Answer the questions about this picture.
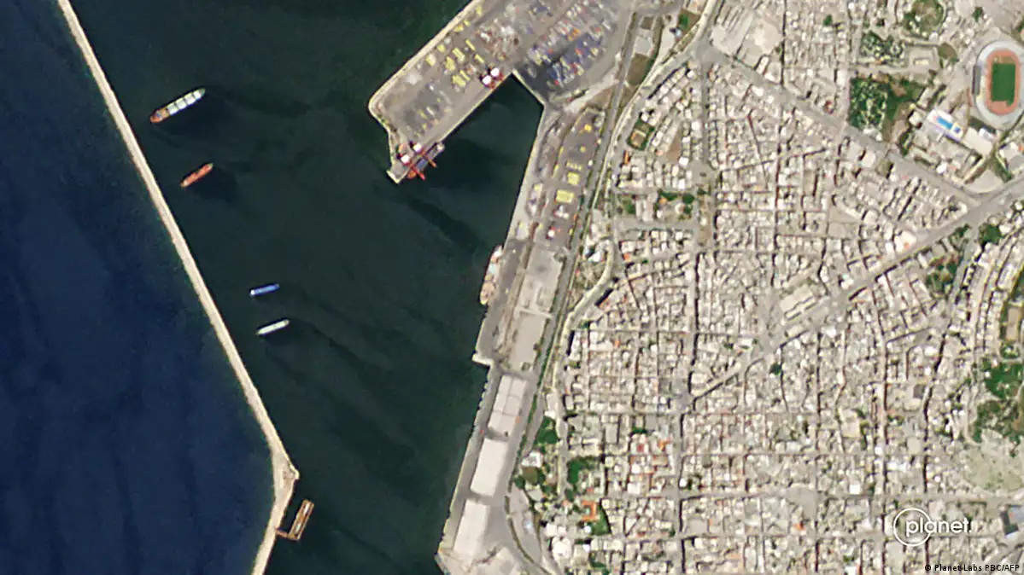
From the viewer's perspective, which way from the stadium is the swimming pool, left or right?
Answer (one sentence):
Relative to the stadium, the swimming pool lies to the left.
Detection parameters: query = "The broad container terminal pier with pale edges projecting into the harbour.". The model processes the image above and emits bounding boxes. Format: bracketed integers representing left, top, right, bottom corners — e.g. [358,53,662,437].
[369,0,585,183]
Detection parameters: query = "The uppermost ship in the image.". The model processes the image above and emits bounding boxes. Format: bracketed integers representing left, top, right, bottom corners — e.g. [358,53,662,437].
[148,87,206,121]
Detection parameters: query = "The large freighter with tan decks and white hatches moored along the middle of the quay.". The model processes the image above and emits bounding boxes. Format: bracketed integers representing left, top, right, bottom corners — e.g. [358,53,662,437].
[479,245,504,306]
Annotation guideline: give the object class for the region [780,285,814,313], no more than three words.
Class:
shed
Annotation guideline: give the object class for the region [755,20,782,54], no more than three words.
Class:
building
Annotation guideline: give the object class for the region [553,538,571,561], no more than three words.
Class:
house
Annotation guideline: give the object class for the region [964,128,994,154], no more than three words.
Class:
building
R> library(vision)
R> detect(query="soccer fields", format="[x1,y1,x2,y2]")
[992,64,1015,101]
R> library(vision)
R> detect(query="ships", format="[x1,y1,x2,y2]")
[479,245,504,306]
[179,163,213,188]
[148,87,206,121]
[257,320,290,335]
[249,284,279,295]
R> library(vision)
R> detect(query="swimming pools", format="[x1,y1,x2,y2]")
[927,109,964,140]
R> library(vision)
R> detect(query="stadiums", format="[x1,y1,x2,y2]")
[973,38,1024,129]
